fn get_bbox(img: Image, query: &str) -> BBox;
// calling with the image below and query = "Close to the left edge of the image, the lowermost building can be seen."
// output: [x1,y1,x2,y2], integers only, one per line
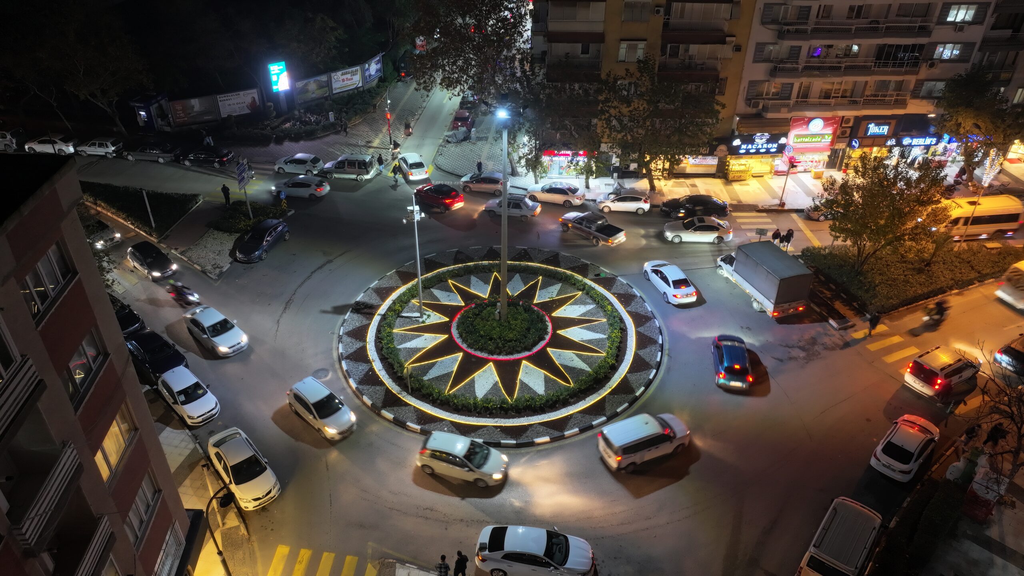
[0,157,213,576]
